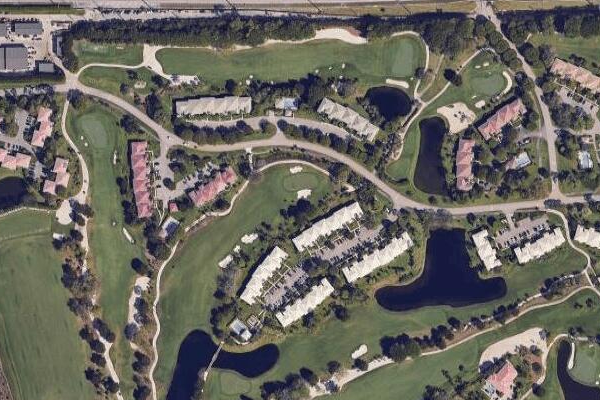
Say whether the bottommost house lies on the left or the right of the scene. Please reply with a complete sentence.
It is on the right.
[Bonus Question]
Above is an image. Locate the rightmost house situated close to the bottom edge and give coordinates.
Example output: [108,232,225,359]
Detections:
[485,360,523,398]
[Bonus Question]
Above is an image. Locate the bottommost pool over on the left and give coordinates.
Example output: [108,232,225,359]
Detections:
[229,317,246,337]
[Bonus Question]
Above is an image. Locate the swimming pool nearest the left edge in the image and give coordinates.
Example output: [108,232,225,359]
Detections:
[159,214,182,238]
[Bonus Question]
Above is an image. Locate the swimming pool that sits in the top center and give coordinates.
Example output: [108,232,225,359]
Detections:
[282,98,298,110]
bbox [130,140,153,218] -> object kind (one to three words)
building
